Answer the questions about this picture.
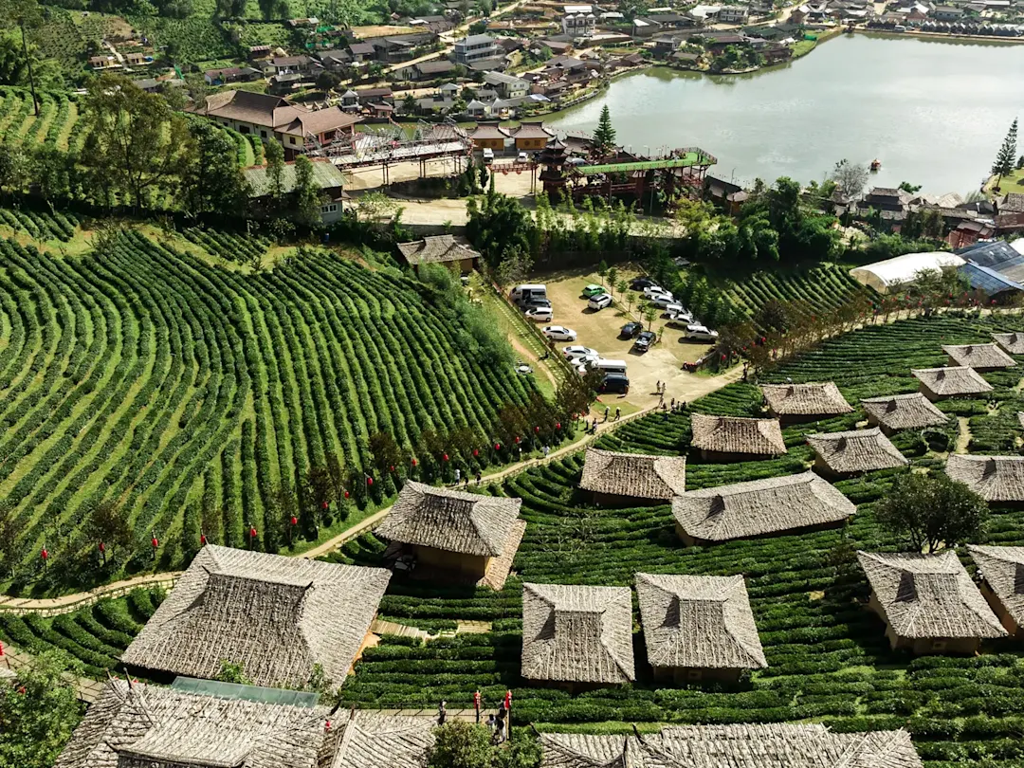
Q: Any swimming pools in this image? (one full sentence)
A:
No, there is no swimming pool in the image.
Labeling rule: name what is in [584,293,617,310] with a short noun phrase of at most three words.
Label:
car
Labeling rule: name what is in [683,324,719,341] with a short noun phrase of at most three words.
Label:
car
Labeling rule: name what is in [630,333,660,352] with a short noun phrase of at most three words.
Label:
vehicle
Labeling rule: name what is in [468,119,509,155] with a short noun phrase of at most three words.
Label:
building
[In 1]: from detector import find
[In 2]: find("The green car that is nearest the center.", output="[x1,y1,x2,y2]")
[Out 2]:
[581,283,608,296]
